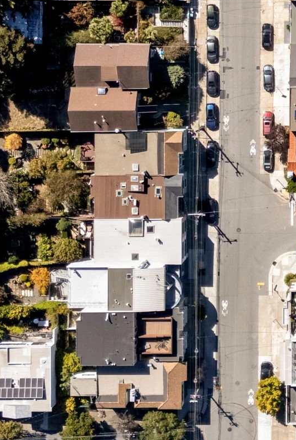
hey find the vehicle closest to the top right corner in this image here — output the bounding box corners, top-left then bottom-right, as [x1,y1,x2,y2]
[262,23,274,50]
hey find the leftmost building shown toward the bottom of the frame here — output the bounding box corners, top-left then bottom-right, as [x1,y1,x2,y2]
[0,337,60,421]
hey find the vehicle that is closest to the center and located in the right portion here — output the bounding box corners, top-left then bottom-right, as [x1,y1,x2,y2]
[207,199,219,226]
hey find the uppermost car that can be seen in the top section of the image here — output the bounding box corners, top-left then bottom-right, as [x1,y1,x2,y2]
[206,2,218,29]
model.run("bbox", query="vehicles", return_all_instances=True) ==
[260,108,274,139]
[206,142,218,169]
[207,70,219,97]
[262,23,274,50]
[206,36,218,62]
[206,2,218,29]
[260,358,272,384]
[207,199,219,226]
[263,64,275,91]
[206,102,217,129]
[262,147,274,172]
